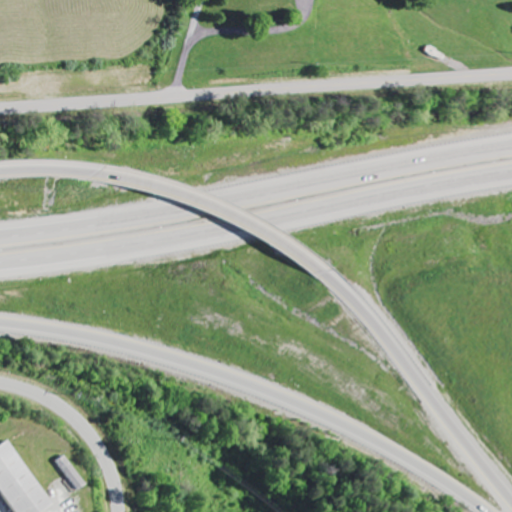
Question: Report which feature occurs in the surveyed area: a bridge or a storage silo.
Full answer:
The image shows a bridge.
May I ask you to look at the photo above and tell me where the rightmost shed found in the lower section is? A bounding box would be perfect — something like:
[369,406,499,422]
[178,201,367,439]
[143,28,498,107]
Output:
[55,456,86,492]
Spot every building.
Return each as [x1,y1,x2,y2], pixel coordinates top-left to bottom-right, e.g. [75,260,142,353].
[55,456,86,492]
[0,441,60,512]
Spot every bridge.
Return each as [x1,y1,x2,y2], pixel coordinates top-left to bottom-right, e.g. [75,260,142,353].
[90,160,344,292]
